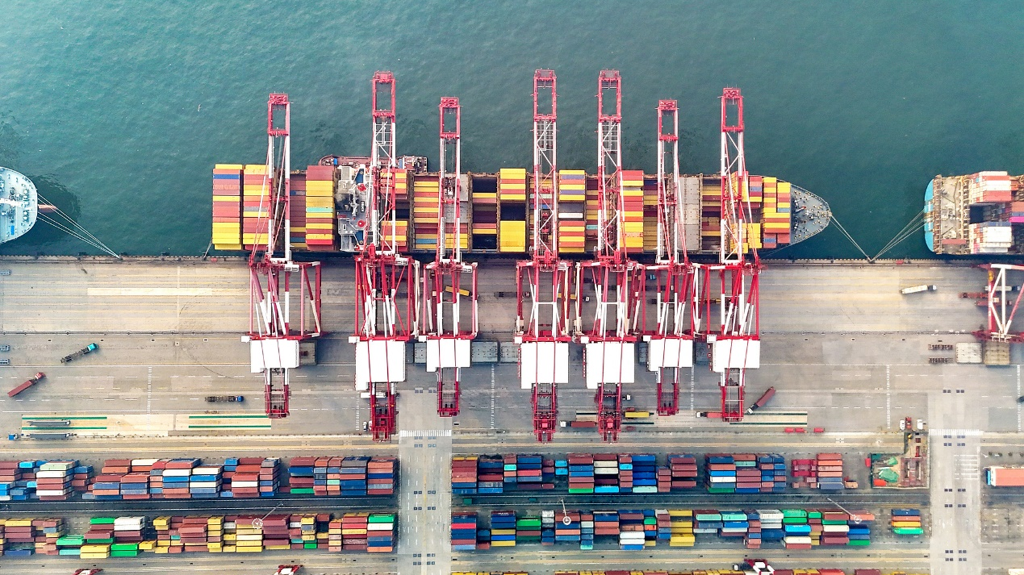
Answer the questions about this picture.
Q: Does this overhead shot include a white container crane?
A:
Yes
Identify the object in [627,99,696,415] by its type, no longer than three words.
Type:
container crane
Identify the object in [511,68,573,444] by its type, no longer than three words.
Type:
container crane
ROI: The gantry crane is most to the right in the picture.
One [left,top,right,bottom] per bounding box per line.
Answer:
[971,262,1024,337]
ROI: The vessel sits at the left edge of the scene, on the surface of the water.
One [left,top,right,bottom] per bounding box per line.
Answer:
[0,167,57,244]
